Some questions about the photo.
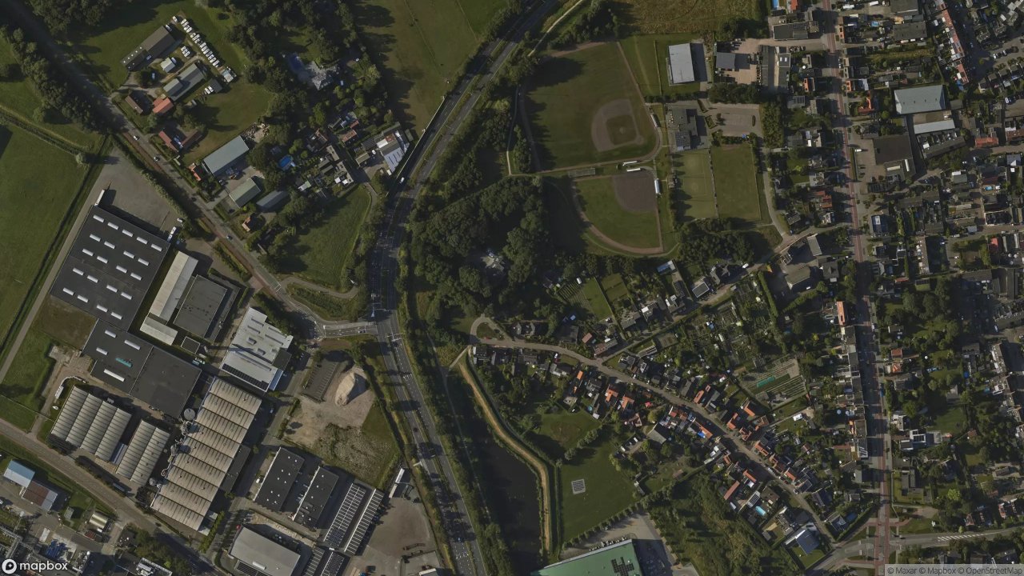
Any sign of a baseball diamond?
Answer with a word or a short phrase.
Yes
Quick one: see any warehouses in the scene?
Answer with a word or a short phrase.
Yes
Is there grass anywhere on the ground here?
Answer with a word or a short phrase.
Yes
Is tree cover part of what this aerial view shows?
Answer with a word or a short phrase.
Yes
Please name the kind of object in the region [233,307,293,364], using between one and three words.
building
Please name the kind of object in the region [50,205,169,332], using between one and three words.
warehouse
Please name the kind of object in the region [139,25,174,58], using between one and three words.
barn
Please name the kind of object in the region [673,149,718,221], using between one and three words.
sports field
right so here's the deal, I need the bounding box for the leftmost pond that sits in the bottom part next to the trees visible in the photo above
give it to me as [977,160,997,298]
[448,370,542,576]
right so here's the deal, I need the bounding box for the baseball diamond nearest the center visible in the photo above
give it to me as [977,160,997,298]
[571,171,665,253]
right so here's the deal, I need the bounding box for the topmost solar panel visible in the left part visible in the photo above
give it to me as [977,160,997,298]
[225,364,268,390]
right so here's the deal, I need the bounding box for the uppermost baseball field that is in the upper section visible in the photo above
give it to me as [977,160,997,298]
[522,40,662,173]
